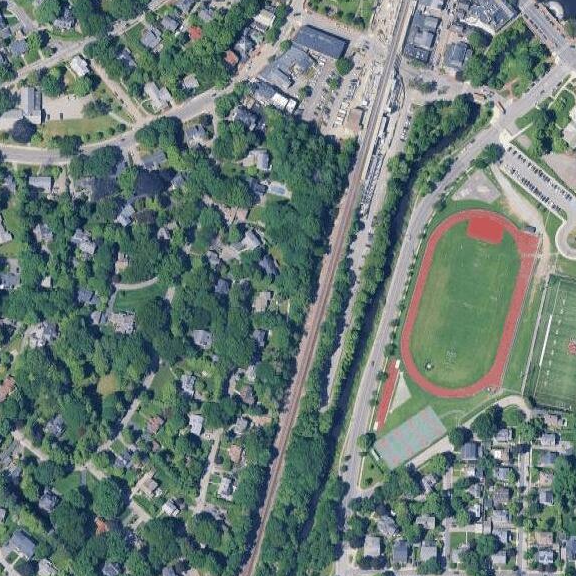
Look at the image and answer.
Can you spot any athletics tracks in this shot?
Yes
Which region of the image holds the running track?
right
